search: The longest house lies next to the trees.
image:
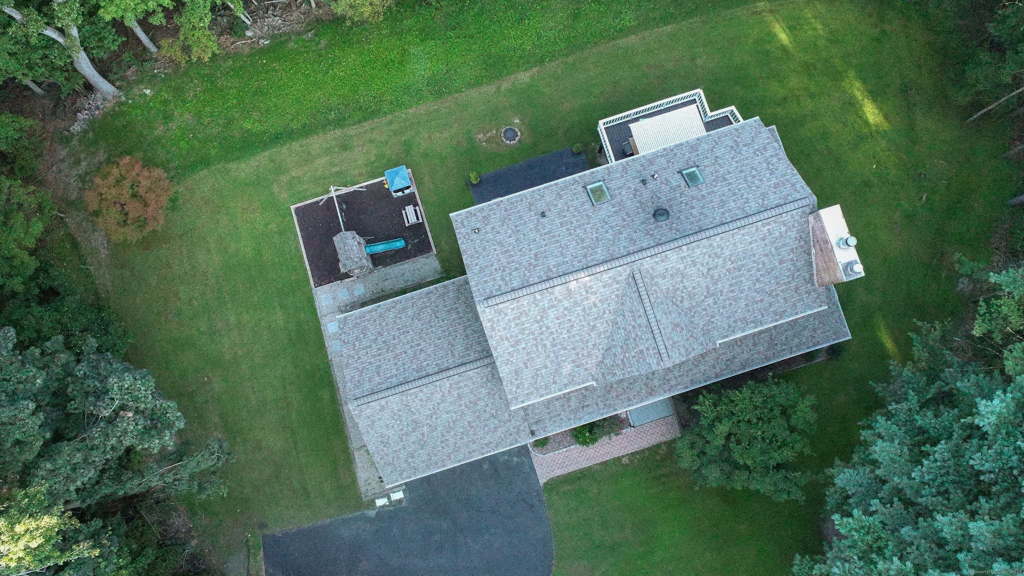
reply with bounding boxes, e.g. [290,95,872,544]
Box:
[335,115,865,490]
